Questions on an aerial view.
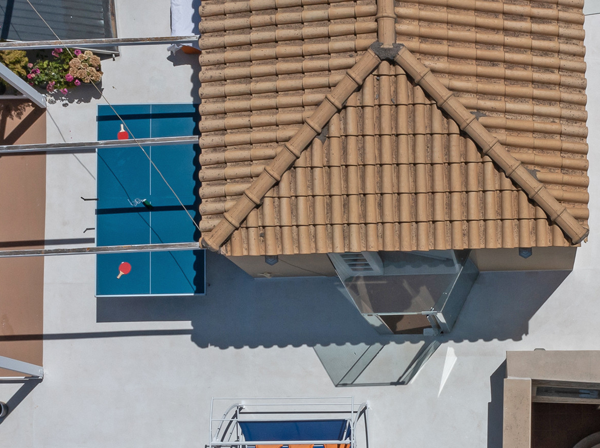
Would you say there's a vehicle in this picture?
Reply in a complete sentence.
No, I can see no vehicle in this picture.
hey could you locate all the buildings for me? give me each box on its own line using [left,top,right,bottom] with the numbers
[192,0,594,273]
[531,381,600,409]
